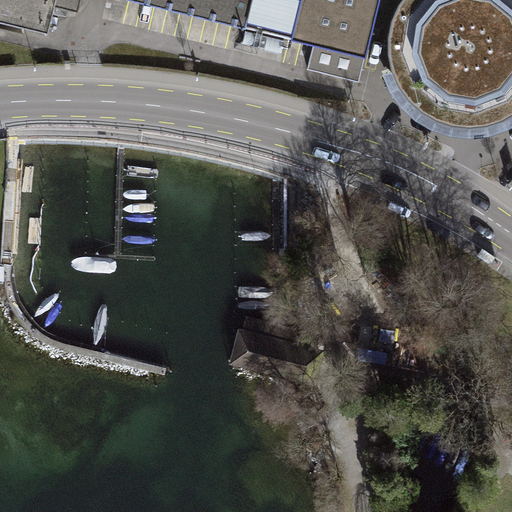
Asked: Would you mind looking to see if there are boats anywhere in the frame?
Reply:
Yes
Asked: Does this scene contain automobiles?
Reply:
Yes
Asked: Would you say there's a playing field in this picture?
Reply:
No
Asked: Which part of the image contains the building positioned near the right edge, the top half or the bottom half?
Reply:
top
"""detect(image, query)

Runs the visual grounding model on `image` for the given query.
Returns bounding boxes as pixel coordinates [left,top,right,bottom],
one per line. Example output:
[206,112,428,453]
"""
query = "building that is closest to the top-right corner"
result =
[376,0,512,140]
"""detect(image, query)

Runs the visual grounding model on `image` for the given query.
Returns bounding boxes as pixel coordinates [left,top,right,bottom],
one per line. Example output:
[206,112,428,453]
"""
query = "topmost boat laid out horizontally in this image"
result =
[124,164,158,179]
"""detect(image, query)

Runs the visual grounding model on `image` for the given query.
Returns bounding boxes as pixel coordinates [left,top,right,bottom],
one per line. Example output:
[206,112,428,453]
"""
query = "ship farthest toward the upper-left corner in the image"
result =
[22,166,34,192]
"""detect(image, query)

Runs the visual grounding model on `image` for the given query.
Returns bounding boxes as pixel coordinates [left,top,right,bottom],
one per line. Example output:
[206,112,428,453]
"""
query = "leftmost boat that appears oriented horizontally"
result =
[70,256,120,274]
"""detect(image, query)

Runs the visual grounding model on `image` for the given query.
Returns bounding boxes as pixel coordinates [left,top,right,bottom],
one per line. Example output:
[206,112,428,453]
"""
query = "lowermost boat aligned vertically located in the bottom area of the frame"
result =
[93,304,108,345]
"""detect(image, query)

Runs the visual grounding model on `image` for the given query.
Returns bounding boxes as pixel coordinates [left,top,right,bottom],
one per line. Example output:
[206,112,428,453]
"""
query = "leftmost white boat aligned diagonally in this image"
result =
[34,292,61,317]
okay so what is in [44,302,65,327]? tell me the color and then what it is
blue boat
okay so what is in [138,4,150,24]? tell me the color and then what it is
white vehicle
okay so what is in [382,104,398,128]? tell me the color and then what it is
black car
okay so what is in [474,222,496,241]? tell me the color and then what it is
gray car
